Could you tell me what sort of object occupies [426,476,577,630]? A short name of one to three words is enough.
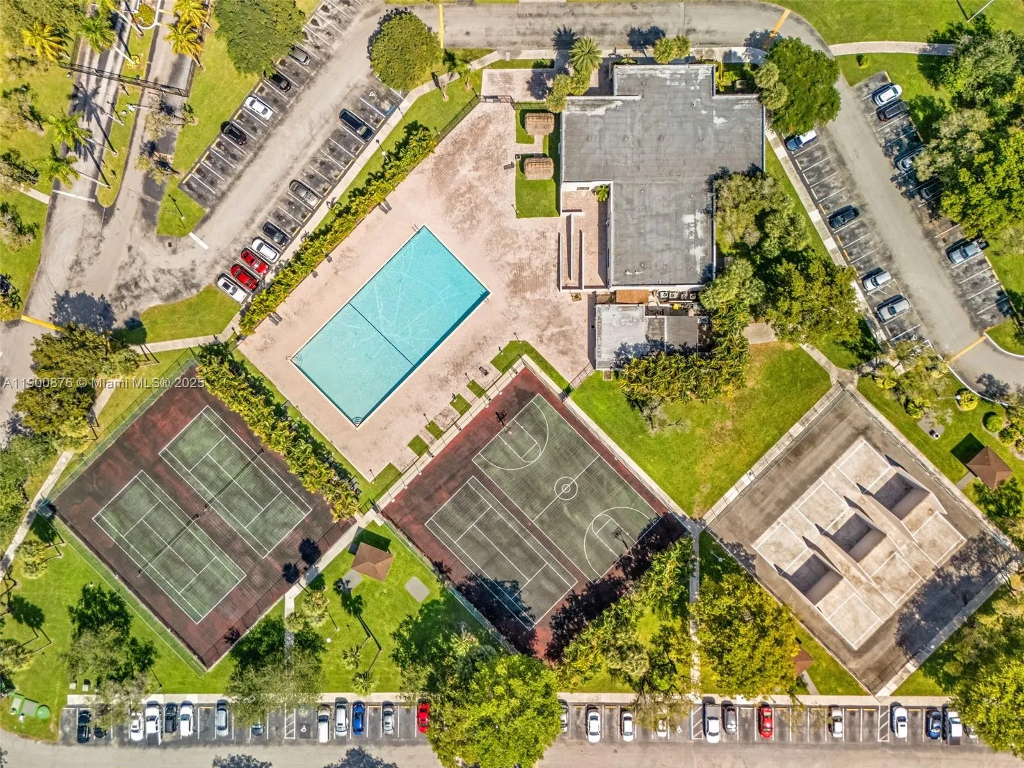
tennis court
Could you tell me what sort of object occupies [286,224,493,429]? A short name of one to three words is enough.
swimming pool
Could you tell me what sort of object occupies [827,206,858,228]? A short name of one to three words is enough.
car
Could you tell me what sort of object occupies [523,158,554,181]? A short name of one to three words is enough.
shed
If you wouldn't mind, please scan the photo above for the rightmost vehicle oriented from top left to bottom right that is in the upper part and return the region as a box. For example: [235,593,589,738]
[341,111,372,140]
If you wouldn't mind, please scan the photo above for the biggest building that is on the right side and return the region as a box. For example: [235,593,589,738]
[560,58,764,290]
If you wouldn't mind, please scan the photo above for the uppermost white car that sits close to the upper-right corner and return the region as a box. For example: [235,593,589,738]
[871,84,902,107]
